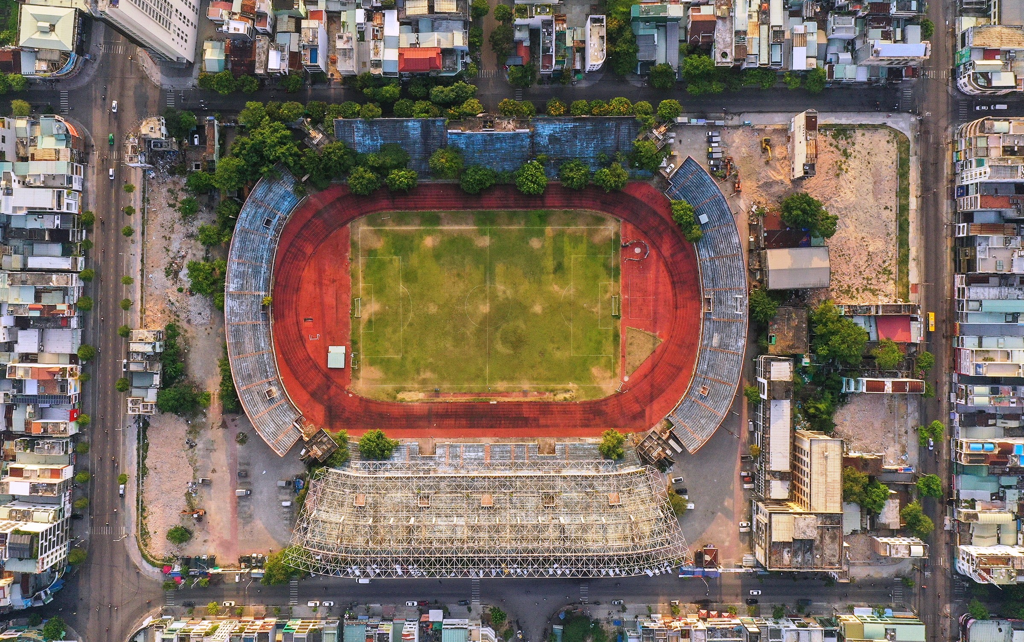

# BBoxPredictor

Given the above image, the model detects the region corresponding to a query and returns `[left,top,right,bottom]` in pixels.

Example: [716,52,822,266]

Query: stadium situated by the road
[223,118,749,578]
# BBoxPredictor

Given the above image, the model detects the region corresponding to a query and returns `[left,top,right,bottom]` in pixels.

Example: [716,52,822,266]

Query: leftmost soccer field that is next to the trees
[351,210,620,402]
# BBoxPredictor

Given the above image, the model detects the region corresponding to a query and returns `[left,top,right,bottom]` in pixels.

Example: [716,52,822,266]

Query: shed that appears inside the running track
[326,346,345,369]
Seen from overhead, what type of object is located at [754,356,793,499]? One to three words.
house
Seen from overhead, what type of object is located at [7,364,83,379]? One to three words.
house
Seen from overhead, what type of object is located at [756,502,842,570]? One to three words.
building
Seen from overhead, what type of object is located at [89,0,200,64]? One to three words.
building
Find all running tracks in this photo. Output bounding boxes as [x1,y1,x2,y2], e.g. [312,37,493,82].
[274,183,703,438]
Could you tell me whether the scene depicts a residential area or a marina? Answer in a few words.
residential area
